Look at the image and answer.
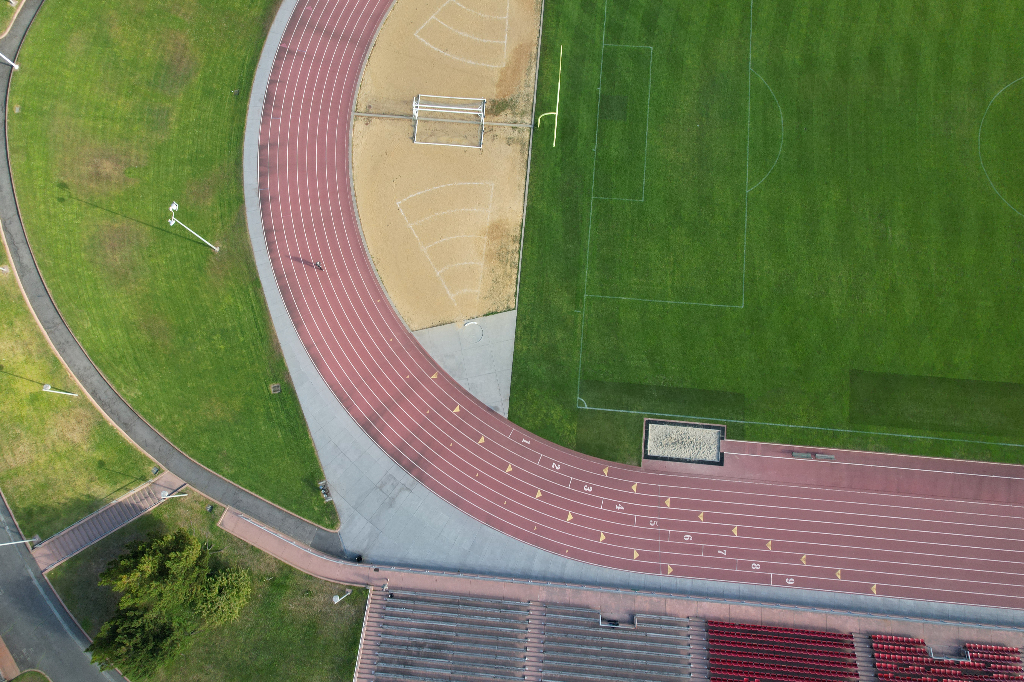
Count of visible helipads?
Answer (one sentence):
The count of helipads is 0.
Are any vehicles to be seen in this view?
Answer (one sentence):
No, the picture doesn't show any vehicle.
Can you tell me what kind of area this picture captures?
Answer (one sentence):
This looks like a sports ground.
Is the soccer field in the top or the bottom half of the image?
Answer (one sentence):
The top half of the photo is where the soccer field is.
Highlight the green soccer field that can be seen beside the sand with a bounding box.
[508,0,1024,465]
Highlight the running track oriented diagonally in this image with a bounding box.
[258,0,1024,609]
